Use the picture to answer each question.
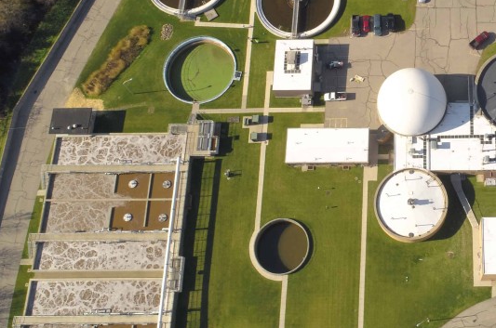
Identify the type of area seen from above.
industrial area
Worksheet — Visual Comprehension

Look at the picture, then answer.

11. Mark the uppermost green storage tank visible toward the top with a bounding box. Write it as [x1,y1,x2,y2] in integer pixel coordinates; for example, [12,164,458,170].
[163,36,245,106]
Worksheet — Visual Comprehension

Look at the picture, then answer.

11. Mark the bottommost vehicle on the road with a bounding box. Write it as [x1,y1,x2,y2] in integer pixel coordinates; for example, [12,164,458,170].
[320,90,349,102]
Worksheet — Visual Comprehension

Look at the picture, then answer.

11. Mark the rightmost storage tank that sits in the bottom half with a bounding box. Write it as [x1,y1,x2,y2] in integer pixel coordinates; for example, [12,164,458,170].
[375,169,448,244]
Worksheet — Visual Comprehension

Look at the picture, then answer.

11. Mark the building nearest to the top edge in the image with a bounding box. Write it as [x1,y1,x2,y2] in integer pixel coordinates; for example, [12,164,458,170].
[272,40,323,99]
